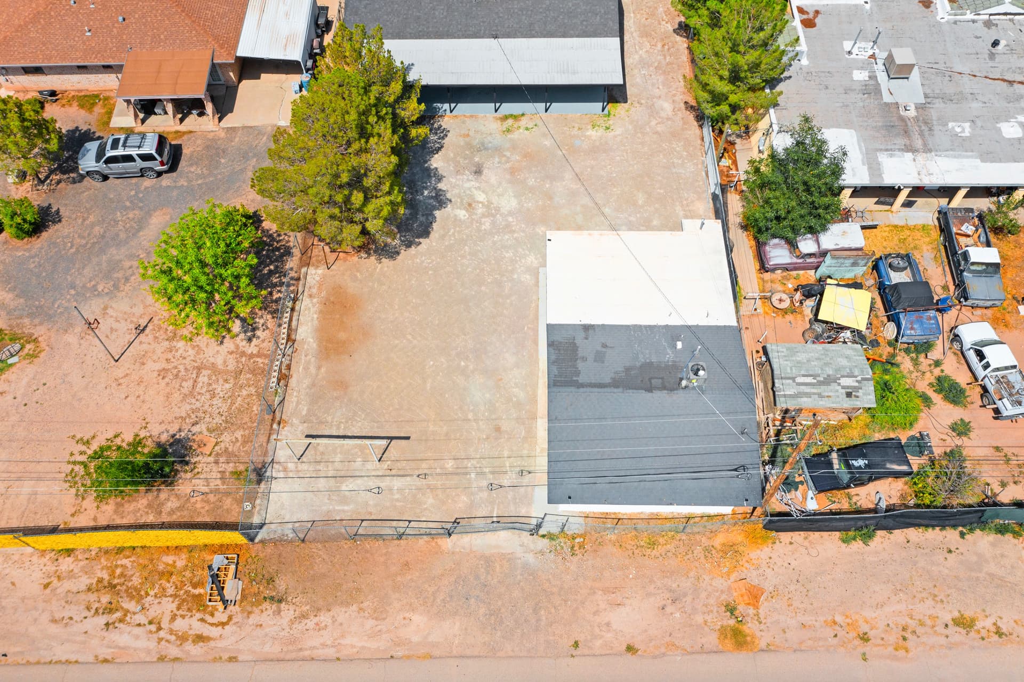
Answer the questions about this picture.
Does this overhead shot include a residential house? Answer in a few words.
Yes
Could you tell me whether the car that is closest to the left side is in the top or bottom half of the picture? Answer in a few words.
top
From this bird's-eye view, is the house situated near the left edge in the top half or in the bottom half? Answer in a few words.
top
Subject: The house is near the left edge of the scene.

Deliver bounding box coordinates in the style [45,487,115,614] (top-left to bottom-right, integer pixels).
[0,0,252,126]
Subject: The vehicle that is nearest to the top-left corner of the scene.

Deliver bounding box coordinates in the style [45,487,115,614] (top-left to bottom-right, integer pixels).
[74,123,175,175]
